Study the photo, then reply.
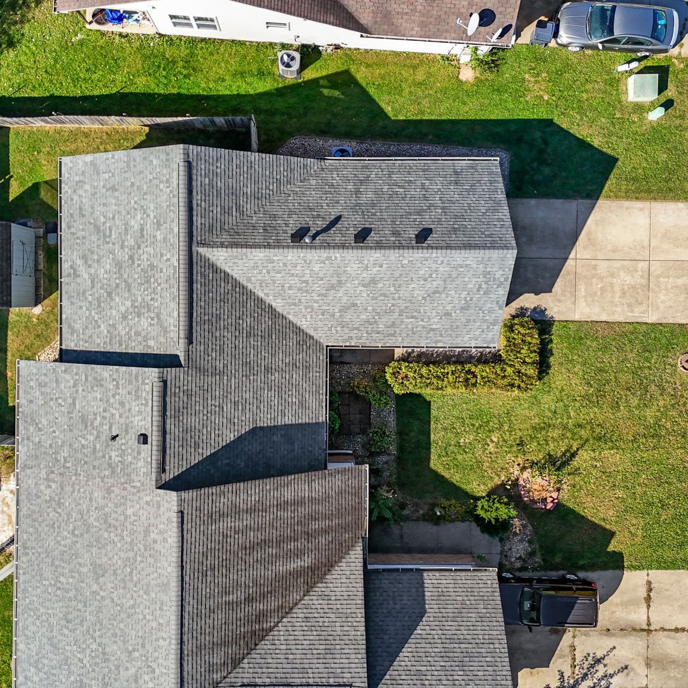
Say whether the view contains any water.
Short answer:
No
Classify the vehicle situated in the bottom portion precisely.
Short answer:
car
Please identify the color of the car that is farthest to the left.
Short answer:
black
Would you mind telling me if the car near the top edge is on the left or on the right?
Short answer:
right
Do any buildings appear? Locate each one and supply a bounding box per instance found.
[51,0,523,61]
[0,219,33,309]
[12,145,517,688]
